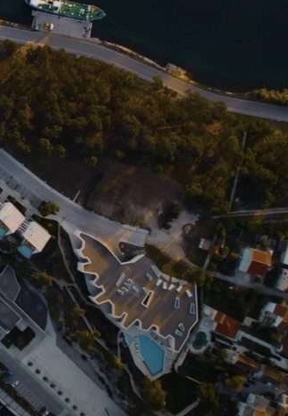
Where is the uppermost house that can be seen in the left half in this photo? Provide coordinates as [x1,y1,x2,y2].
[0,199,24,234]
